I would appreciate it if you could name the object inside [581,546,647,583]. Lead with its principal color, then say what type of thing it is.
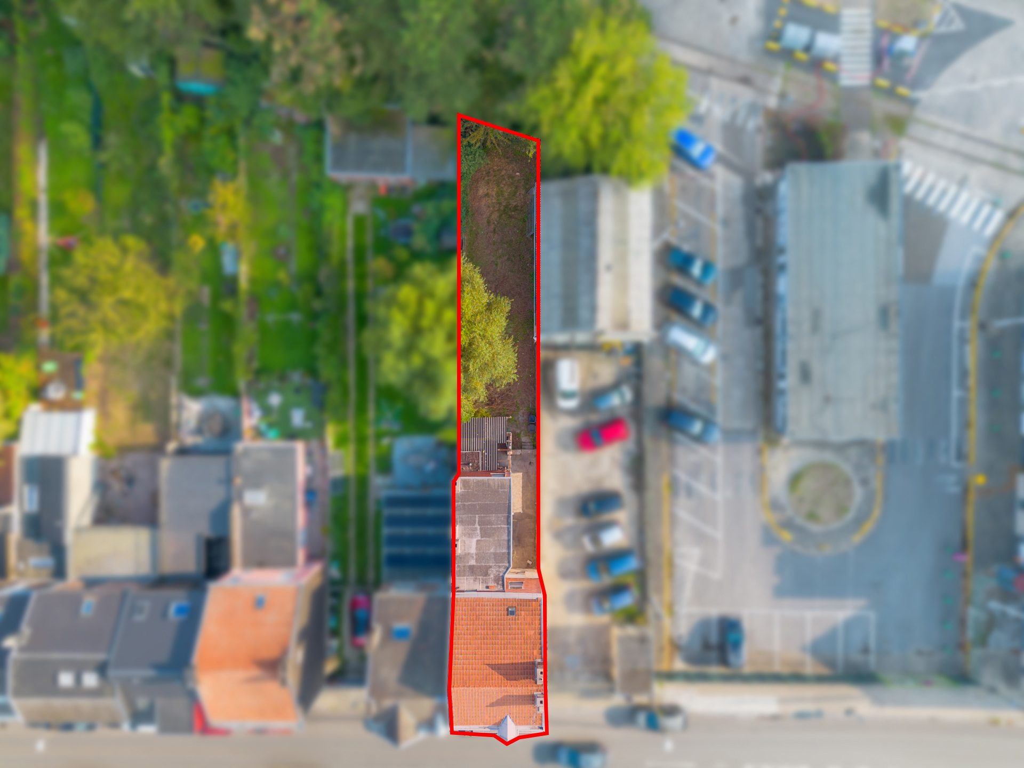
blue car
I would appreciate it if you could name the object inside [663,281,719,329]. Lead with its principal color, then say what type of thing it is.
blue car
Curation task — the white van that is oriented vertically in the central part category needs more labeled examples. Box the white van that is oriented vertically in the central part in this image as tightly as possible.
[554,354,582,412]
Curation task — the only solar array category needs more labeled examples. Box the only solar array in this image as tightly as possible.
[386,492,453,569]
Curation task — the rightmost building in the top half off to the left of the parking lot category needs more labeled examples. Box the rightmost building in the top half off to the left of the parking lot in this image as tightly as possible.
[534,175,653,342]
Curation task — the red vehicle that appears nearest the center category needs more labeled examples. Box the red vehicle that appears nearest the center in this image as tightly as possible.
[573,415,635,450]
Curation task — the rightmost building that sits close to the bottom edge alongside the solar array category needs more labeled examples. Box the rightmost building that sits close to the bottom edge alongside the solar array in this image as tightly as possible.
[449,572,548,742]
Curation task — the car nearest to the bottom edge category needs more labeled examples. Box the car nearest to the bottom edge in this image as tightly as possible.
[547,738,611,768]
